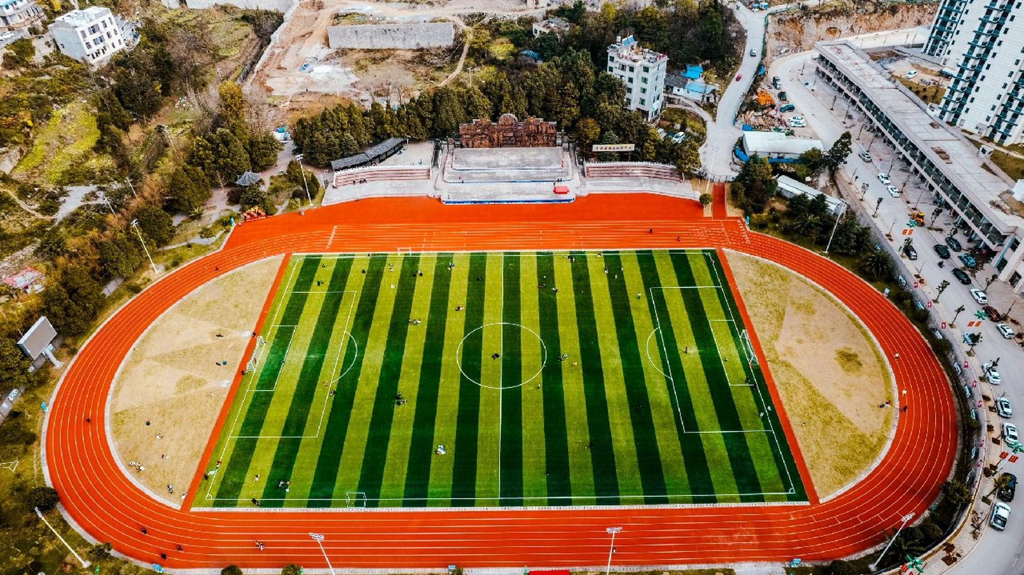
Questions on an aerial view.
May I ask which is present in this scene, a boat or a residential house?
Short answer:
residential house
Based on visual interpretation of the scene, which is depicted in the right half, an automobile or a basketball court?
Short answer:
automobile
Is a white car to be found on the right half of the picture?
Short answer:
Yes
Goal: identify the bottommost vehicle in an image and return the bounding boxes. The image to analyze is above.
[992,502,1013,534]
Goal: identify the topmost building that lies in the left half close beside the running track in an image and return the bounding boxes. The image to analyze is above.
[328,129,405,175]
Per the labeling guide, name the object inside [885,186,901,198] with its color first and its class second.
white vehicle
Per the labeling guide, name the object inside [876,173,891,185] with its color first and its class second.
white vehicle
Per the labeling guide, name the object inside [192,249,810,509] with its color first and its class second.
green sports field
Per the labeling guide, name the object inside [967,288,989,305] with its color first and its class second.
white car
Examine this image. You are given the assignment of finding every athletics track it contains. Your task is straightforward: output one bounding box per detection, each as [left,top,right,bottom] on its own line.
[41,185,963,575]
